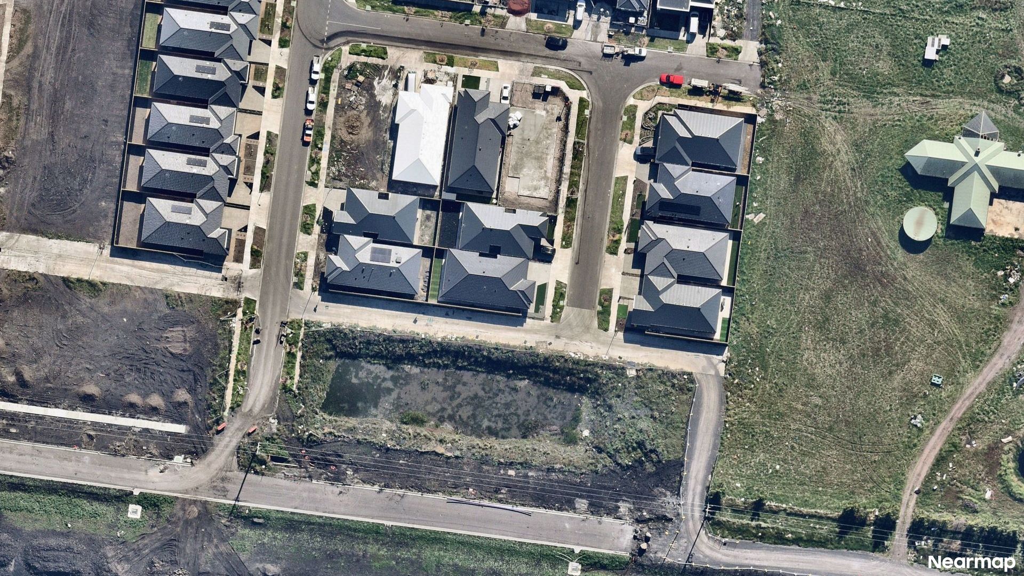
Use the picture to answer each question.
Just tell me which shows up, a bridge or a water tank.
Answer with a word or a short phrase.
water tank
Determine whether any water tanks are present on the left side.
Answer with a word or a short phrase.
No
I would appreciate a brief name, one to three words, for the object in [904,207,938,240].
water tank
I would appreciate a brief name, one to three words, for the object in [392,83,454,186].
house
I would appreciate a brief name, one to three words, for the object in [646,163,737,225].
house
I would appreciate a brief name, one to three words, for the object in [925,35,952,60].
shed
